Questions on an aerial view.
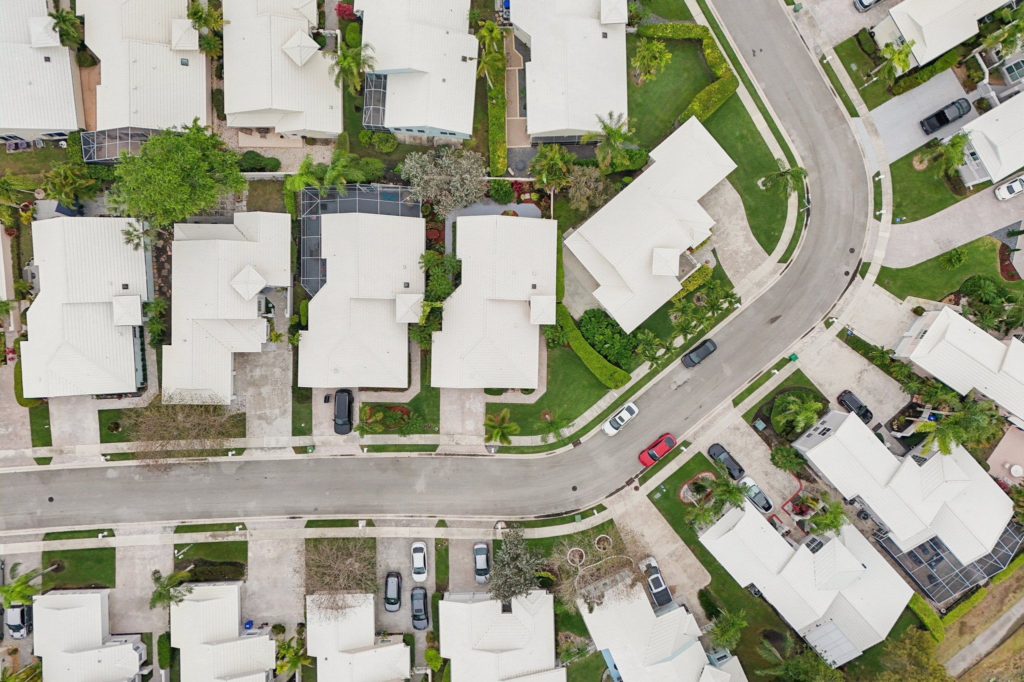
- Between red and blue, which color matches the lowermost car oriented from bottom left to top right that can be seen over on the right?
red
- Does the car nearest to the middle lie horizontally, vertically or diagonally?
diagonally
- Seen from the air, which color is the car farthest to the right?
white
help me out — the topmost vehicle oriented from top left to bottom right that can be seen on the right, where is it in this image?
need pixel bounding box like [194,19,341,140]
[834,389,873,426]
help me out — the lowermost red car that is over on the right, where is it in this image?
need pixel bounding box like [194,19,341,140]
[638,433,677,467]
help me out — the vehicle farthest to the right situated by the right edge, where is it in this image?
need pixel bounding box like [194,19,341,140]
[991,174,1024,201]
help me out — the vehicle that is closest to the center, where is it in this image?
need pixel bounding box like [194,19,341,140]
[600,401,641,436]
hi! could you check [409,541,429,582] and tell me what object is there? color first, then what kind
white car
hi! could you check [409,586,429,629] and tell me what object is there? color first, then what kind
gray car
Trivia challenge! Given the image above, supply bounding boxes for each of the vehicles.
[409,541,429,582]
[638,433,677,467]
[472,542,492,584]
[679,337,720,370]
[6,590,32,639]
[917,96,972,136]
[409,586,429,629]
[834,389,873,426]
[383,571,403,612]
[641,556,673,609]
[738,475,775,515]
[991,174,1024,201]
[708,442,746,480]
[600,401,641,436]
[332,390,353,434]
